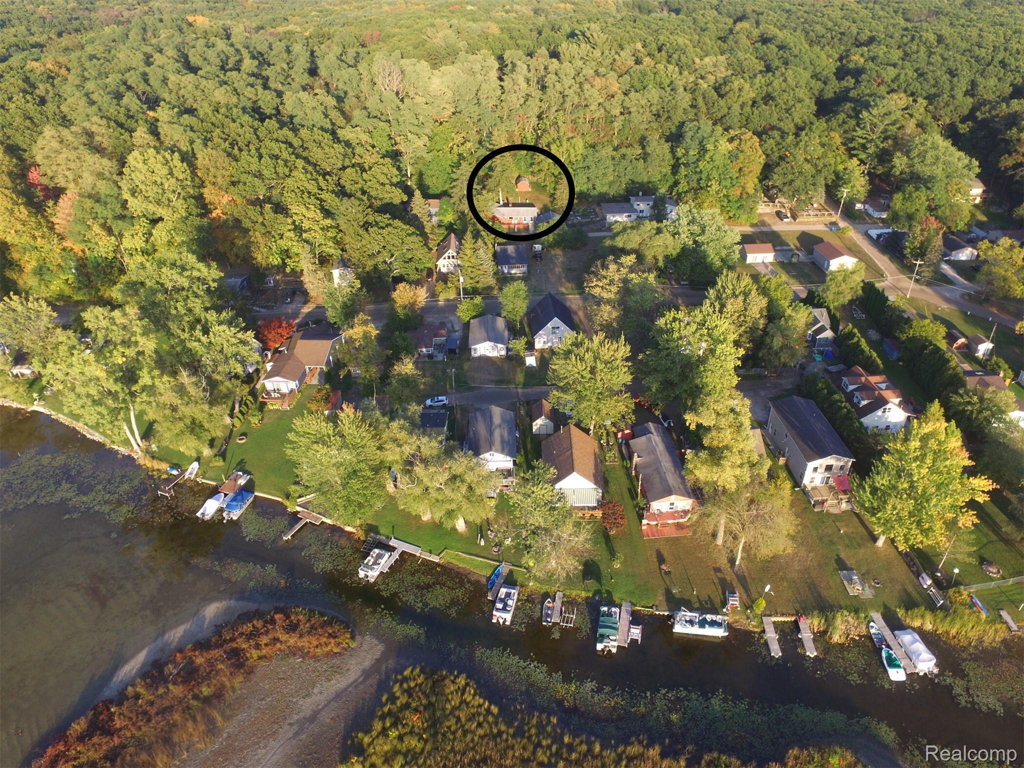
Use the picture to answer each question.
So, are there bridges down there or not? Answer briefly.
No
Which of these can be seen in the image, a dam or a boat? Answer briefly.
boat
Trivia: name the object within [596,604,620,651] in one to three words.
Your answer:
boat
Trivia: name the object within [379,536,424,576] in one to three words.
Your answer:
pier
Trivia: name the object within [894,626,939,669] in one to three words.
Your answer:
boat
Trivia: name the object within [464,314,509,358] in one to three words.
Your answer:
house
